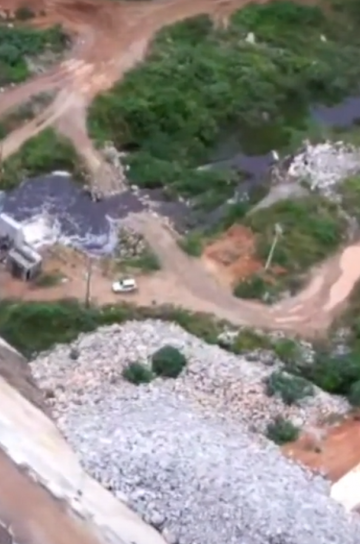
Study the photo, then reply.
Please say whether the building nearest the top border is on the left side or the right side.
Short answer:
left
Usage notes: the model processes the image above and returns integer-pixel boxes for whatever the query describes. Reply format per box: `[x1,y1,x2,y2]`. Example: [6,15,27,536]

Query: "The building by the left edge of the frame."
[0,217,44,279]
